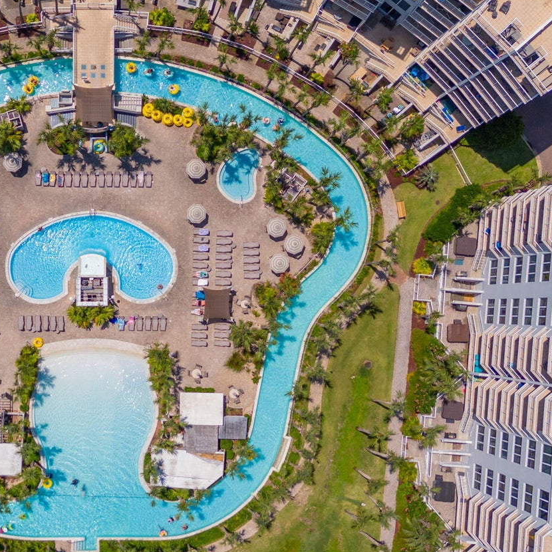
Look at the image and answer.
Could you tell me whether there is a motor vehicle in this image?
No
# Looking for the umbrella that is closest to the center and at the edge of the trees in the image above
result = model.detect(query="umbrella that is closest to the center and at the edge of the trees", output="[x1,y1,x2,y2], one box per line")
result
[268,253,290,274]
